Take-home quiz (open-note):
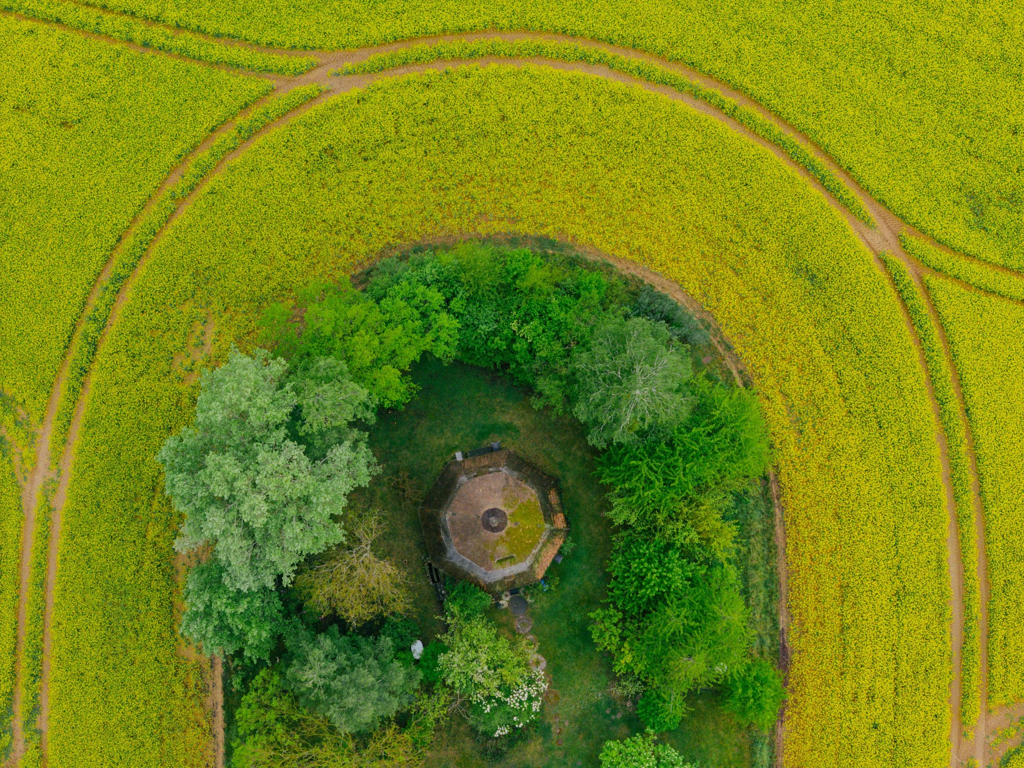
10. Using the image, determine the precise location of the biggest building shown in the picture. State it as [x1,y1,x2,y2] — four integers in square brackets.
[419,450,570,592]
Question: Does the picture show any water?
No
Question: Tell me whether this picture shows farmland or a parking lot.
farmland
